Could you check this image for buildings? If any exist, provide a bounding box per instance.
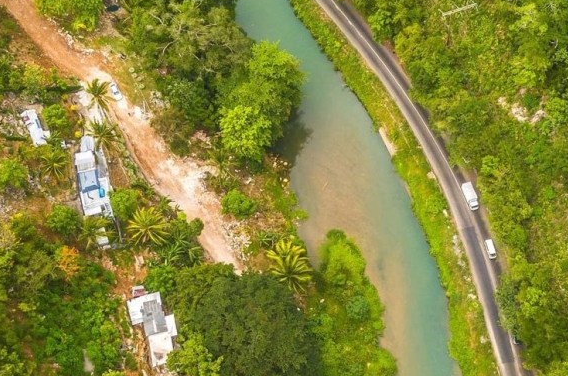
[97,228,111,247]
[21,110,53,150]
[76,136,116,218]
[127,283,179,367]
